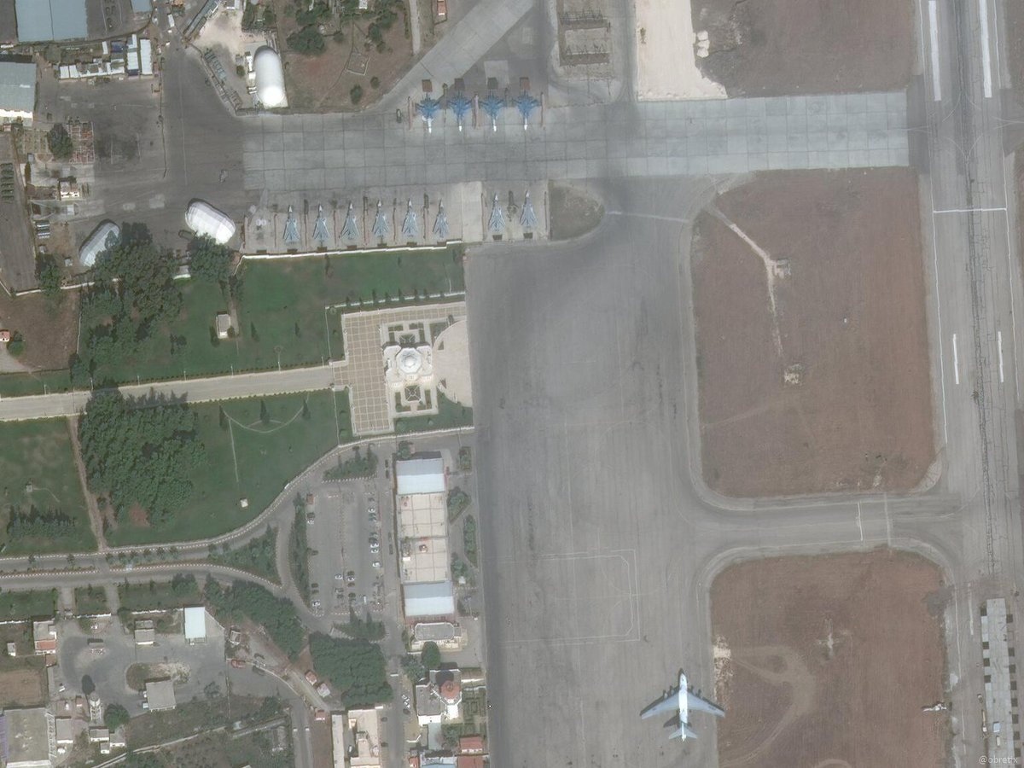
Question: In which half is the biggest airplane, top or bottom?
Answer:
bottom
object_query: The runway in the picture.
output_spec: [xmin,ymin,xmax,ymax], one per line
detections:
[922,0,1024,768]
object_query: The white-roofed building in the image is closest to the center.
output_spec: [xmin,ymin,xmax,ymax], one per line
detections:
[384,345,433,388]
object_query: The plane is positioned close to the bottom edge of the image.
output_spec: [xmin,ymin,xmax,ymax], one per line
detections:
[641,671,725,743]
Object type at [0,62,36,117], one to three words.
hangar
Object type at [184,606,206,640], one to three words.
shed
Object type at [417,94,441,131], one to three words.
airplane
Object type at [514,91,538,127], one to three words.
airplane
